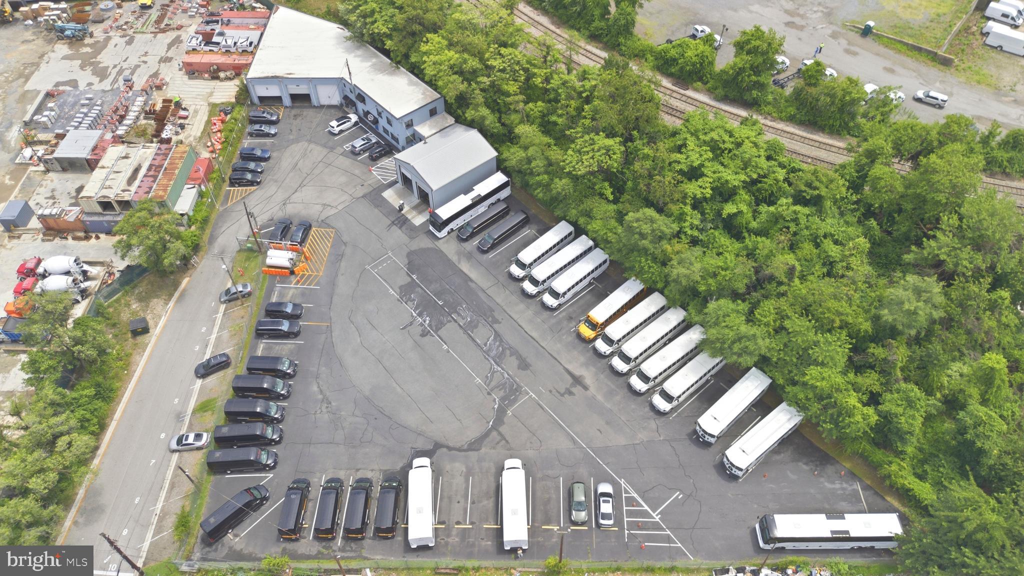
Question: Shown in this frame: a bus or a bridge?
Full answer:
Visible in the photo is a bus.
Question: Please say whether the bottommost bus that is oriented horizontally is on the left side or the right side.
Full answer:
It is on the right.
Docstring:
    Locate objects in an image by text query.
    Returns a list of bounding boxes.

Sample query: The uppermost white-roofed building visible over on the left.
[246,4,461,148]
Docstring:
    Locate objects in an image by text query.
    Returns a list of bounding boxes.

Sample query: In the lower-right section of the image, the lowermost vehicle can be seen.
[755,509,901,552]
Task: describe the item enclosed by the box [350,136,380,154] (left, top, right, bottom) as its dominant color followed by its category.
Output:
gray car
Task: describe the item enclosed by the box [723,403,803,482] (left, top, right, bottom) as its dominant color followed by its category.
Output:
white bus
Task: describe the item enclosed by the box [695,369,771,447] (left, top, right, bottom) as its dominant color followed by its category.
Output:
white bus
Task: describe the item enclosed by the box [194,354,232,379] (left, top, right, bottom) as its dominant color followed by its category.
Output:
gray car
